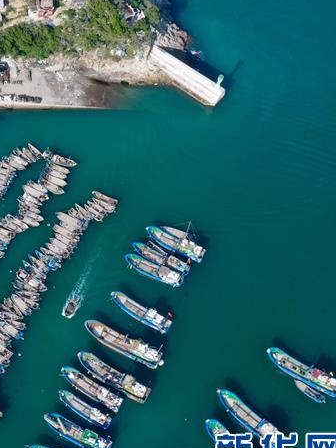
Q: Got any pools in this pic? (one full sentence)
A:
No, the photo shows no pool.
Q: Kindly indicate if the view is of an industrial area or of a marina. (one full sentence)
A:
The area seen from above is a marina.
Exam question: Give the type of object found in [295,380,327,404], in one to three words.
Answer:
boat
